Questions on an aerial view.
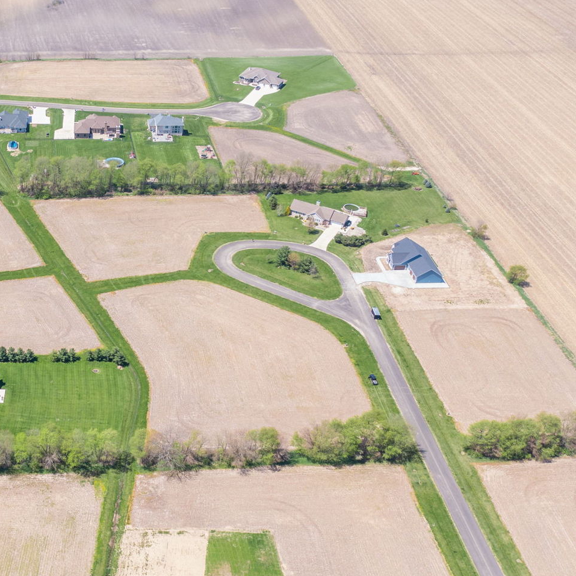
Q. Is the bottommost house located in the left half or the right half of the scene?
right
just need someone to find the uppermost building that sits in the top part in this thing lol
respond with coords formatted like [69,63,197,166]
[239,64,285,88]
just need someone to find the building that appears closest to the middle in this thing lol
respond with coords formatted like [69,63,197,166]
[290,200,352,230]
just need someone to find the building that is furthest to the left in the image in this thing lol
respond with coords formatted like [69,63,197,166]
[0,115,27,133]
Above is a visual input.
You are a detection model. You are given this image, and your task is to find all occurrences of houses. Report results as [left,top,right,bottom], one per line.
[239,64,285,88]
[290,200,352,230]
[0,115,27,133]
[146,114,184,136]
[378,236,448,282]
[73,119,120,138]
